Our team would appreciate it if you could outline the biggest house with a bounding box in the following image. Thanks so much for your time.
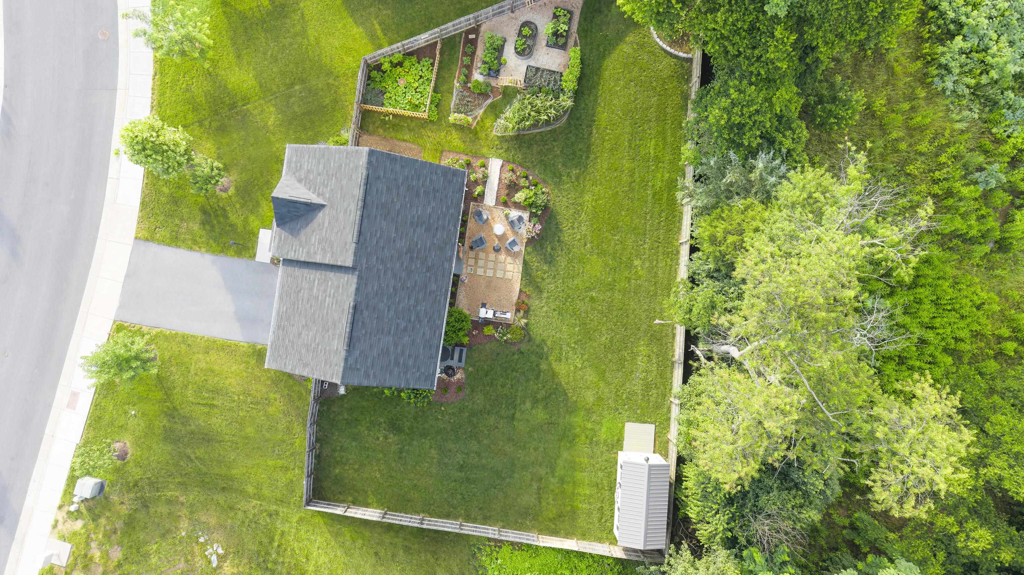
[263,143,470,392]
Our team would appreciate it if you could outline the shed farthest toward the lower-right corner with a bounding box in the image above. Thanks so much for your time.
[613,451,669,552]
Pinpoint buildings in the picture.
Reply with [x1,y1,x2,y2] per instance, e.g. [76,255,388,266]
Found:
[613,451,669,552]
[263,143,470,392]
